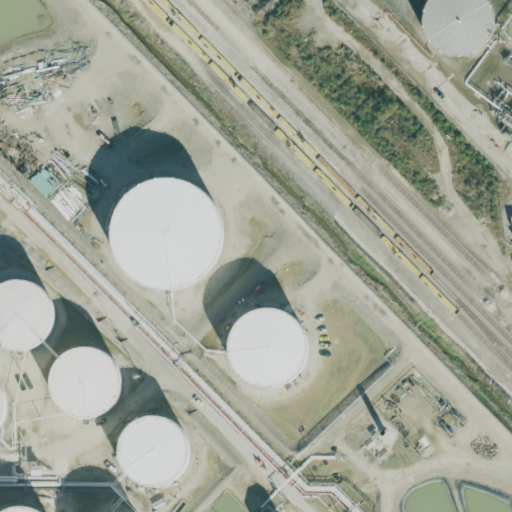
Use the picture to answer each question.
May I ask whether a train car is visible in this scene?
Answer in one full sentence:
Yes, a train car appears in the view.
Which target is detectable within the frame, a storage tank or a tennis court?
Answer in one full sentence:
It is a storage tank that can be seen here.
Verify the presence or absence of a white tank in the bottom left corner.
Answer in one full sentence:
Yes, in the bottom left corner there is a white tank.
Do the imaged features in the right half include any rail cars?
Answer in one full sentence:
Yes, I can see a rail car in the right half.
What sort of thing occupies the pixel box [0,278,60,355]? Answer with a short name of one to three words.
storage tank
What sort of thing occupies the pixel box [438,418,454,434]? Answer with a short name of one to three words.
vehicle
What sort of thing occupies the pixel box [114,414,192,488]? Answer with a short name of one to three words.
storage tank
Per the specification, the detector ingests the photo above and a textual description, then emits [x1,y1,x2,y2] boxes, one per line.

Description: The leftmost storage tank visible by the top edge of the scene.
[420,0,498,60]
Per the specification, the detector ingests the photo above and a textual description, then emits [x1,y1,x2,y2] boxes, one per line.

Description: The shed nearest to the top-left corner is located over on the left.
[30,168,60,197]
